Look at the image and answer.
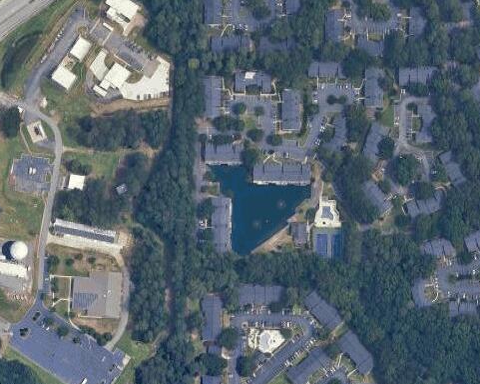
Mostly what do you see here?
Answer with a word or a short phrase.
trees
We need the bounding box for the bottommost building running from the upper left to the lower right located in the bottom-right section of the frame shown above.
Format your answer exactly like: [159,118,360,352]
[337,331,373,373]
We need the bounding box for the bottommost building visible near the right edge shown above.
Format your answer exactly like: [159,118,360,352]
[449,302,478,317]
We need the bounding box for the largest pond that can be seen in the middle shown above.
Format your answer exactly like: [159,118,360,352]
[208,164,309,255]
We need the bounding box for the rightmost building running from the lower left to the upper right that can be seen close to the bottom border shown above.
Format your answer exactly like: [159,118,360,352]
[288,351,332,384]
